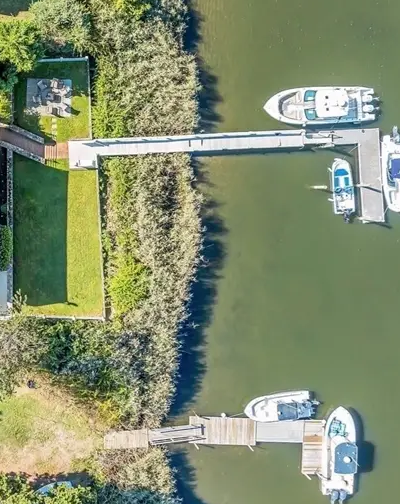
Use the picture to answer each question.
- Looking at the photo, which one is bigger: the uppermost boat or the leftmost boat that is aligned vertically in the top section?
the uppermost boat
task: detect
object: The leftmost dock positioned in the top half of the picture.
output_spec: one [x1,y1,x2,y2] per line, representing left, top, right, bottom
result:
[69,129,306,169]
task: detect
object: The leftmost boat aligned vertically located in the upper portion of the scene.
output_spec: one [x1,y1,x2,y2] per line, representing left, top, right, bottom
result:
[324,158,352,220]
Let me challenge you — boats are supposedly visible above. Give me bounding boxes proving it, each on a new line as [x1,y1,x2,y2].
[380,131,400,212]
[324,158,352,220]
[243,392,316,422]
[322,405,359,501]
[263,86,379,128]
